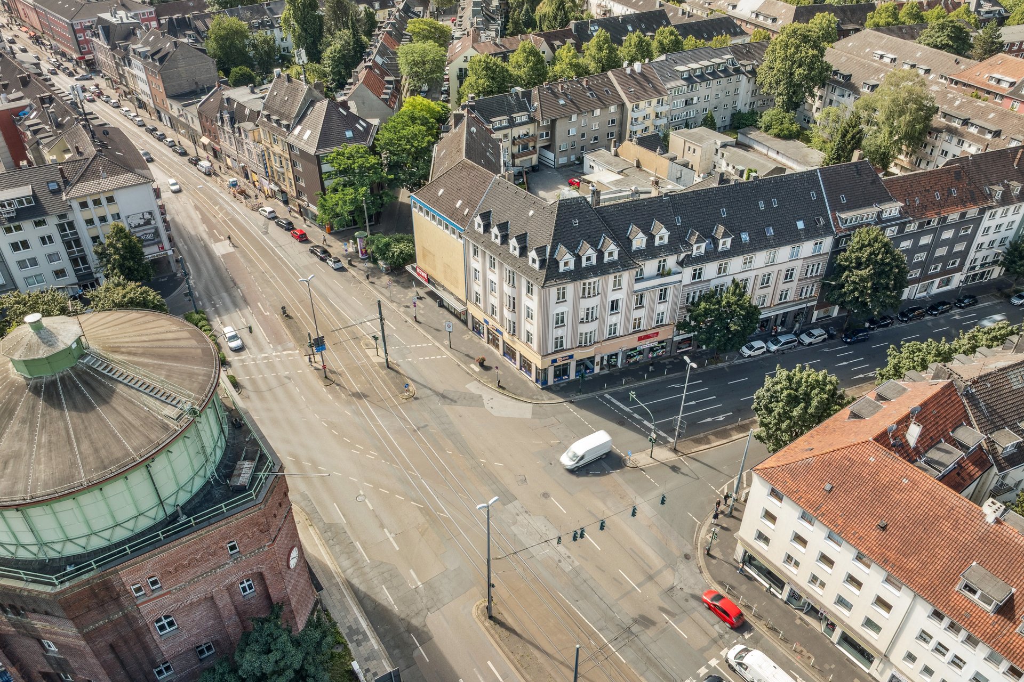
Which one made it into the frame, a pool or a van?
van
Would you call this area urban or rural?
urban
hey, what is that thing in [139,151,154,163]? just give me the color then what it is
gray vehicle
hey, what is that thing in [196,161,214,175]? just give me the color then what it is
white car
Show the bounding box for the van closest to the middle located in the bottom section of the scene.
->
[560,420,618,469]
